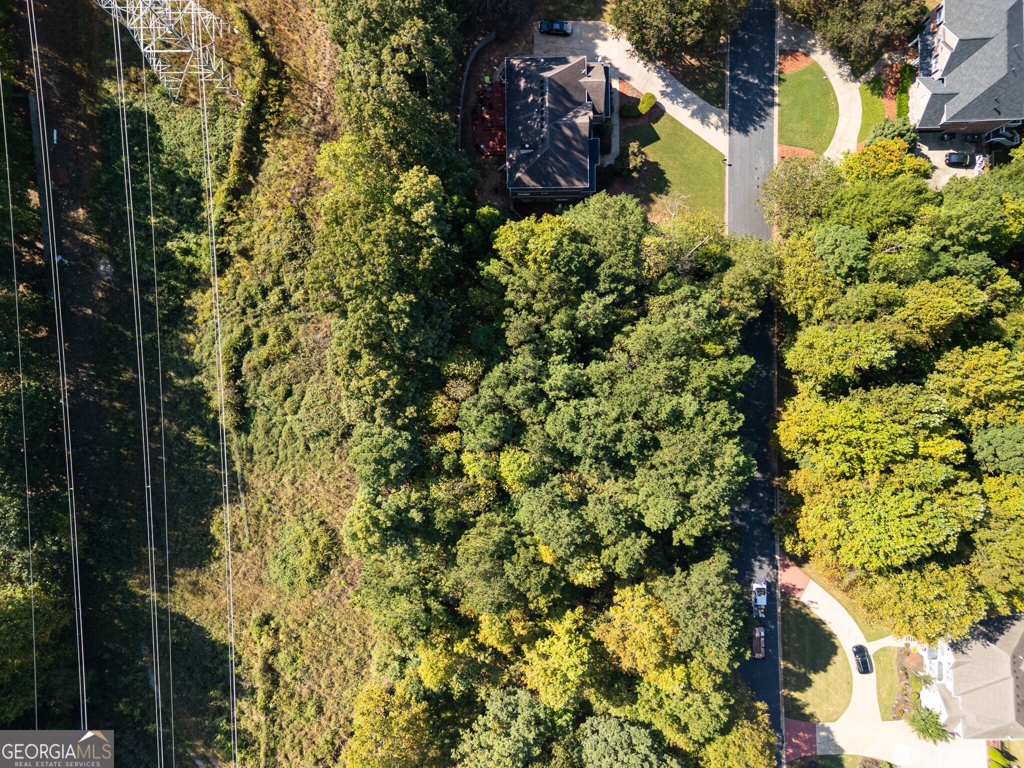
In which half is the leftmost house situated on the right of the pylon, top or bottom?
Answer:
top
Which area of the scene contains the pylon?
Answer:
top left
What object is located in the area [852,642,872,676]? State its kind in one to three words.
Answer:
car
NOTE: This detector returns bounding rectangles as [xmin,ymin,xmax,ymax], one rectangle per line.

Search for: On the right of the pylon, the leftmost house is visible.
[505,55,610,200]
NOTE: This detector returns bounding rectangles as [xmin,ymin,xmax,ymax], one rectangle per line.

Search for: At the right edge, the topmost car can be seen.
[943,153,974,168]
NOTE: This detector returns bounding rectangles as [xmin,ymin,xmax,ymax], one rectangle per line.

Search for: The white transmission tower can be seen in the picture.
[98,0,244,105]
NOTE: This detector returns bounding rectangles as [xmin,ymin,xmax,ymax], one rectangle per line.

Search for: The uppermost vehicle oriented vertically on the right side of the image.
[751,578,768,618]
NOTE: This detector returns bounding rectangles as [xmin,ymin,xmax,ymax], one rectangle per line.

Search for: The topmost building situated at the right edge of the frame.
[904,0,1023,135]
